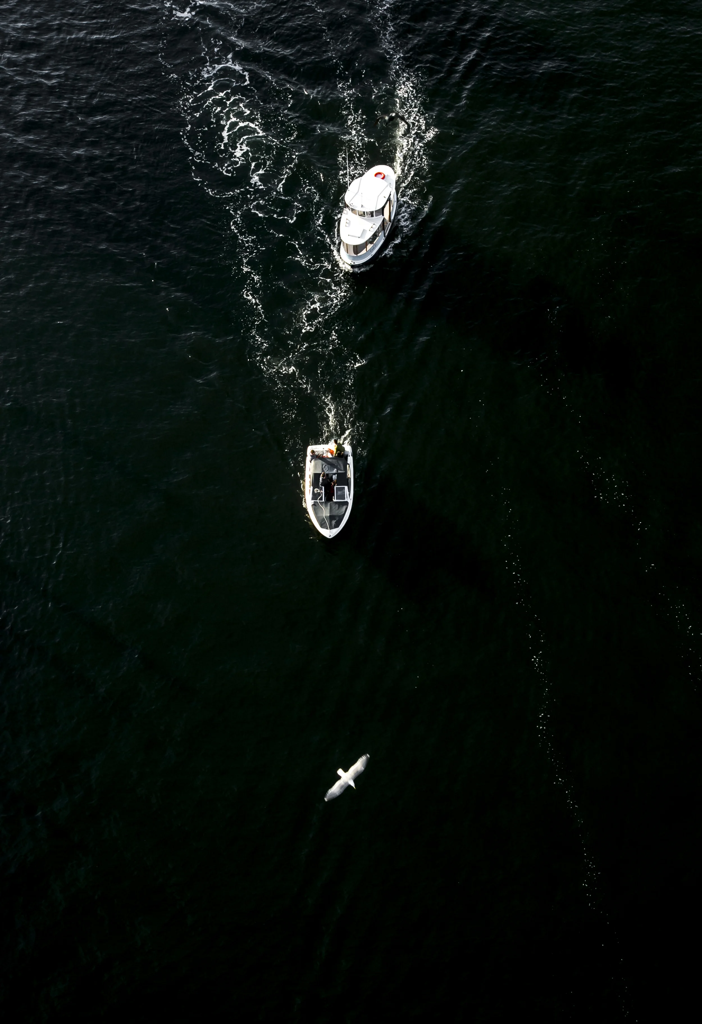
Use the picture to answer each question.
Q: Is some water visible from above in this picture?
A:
Yes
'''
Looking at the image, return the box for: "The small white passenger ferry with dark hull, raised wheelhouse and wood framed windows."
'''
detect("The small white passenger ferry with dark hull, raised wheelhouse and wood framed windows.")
[341,155,397,270]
